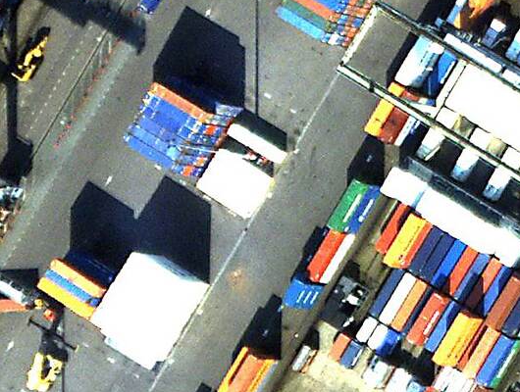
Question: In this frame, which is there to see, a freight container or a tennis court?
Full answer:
It is a freight container that can be seen here.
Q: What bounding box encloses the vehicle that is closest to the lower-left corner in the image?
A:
[17,328,73,392]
